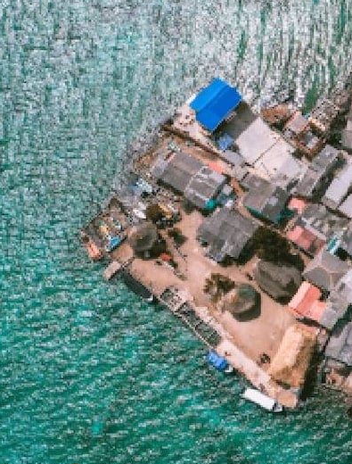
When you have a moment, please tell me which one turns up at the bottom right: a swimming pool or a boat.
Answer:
boat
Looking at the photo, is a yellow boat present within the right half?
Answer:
No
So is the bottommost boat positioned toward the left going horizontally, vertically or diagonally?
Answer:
diagonally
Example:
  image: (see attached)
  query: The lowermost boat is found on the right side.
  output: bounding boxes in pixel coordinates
[240,385,283,410]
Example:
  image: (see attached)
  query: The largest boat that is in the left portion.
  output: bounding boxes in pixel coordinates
[120,267,154,299]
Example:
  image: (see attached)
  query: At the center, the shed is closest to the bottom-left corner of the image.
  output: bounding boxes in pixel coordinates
[130,223,161,252]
